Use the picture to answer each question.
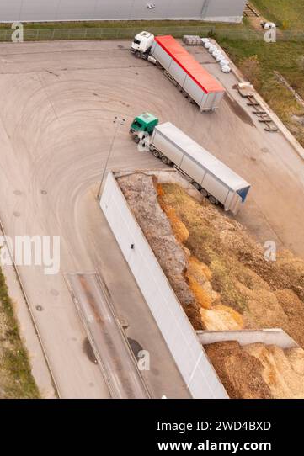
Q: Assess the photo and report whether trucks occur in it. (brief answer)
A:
Yes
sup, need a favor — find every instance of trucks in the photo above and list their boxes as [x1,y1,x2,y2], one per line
[140,37,225,112]
[134,120,252,214]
